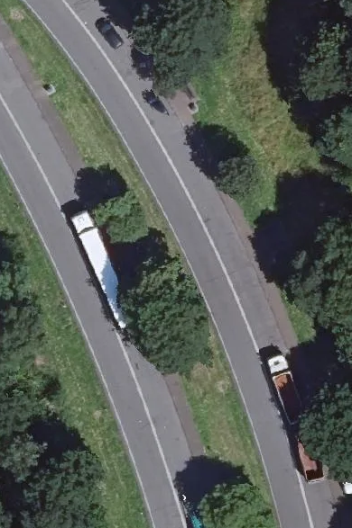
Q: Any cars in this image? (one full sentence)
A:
Yes, a car appears in the view.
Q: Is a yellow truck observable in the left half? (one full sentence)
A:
No, looking in the left half, there is no yellow truck.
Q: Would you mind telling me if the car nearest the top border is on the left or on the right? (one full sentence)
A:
The car nearest the top border sits on the left side.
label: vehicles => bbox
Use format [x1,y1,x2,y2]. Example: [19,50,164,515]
[69,209,135,328]
[142,89,170,117]
[96,17,123,50]
[264,354,307,424]
[133,52,156,82]
[178,489,206,528]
